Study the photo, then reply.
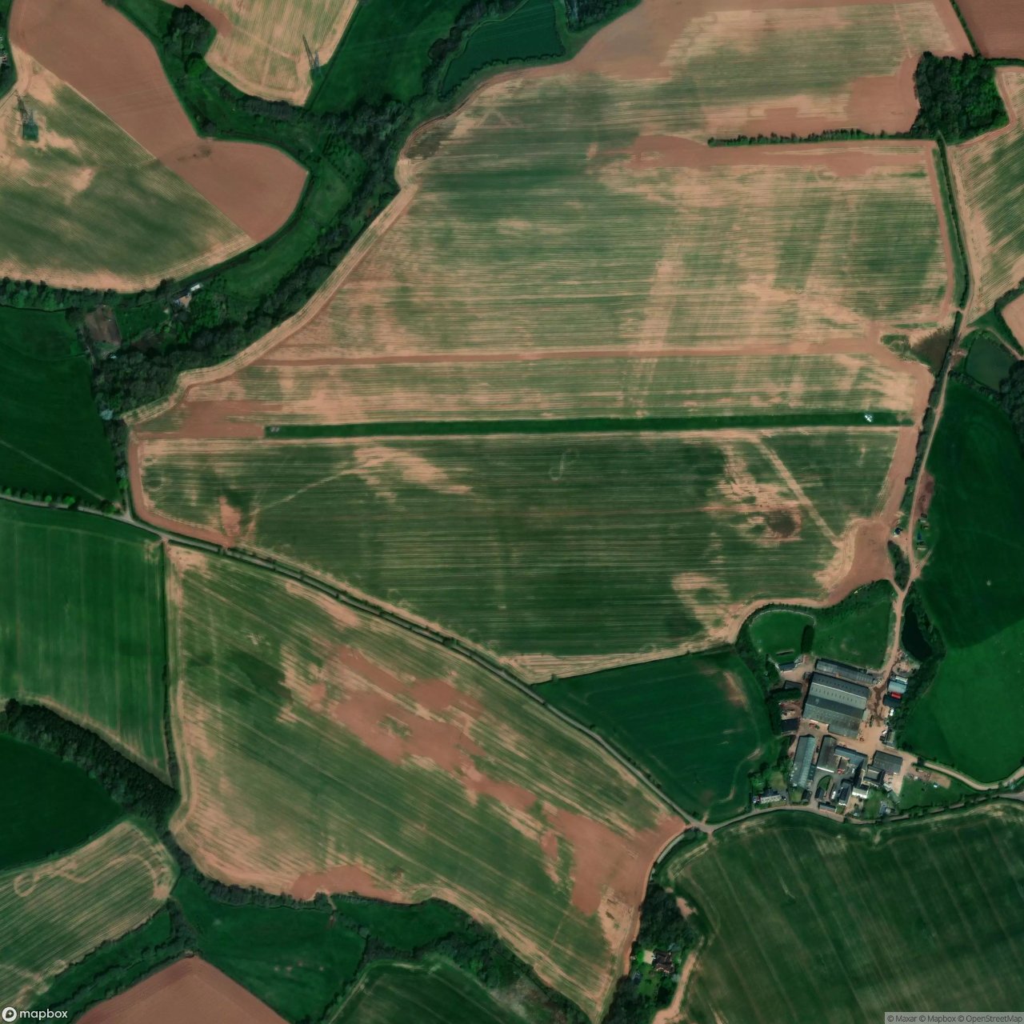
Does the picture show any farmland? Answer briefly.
Yes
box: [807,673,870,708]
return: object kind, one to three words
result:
barn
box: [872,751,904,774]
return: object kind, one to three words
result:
building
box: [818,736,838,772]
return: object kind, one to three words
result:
barn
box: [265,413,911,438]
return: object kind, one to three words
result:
runway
